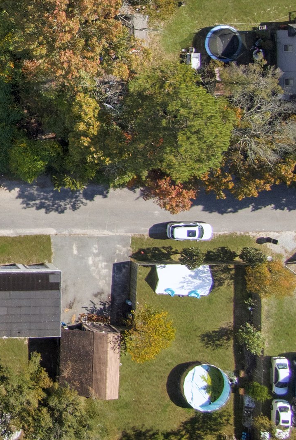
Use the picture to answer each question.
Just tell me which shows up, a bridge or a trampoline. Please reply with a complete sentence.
The image shows a trampoline.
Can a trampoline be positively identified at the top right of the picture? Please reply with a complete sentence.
Yes, you'll find a trampoline at the top right of the picture.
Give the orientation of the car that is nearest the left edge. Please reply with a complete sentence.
From this overhead view, the car that is nearest the left edge appears to run from left to right.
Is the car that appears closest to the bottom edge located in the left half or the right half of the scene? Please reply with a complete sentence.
The car that appears closest to the bottom edge appears in the right half of the scene.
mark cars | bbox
[165,221,211,242]
[289,356,296,398]
[268,355,292,396]
[270,398,294,439]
